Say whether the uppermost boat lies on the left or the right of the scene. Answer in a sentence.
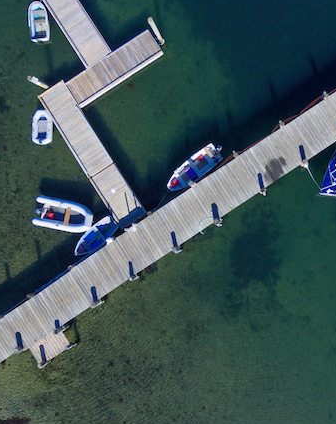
You can find the uppermost boat on the left side of the picture.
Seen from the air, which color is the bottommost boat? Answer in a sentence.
From above, the bottommost boat appears blue.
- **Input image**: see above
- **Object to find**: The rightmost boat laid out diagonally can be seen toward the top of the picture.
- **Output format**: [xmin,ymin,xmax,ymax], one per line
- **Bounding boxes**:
[167,143,223,189]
